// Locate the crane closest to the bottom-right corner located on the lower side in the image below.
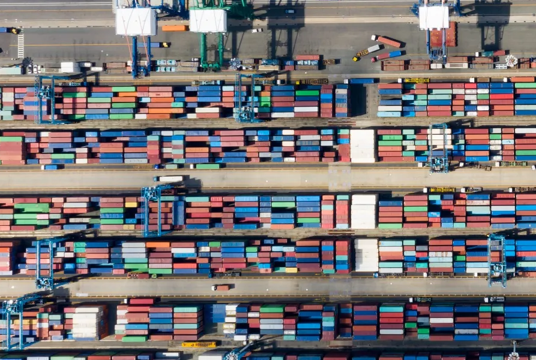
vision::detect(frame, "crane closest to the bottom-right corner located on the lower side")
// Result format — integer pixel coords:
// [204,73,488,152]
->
[482,230,514,288]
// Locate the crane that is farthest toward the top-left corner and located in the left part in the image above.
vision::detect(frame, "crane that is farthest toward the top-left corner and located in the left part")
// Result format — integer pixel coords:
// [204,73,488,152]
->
[35,74,86,125]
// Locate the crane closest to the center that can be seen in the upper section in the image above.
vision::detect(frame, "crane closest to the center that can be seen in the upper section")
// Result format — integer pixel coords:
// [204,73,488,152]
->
[233,73,274,123]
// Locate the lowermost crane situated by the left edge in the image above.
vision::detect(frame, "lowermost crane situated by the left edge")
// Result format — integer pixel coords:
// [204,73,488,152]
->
[2,293,54,352]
